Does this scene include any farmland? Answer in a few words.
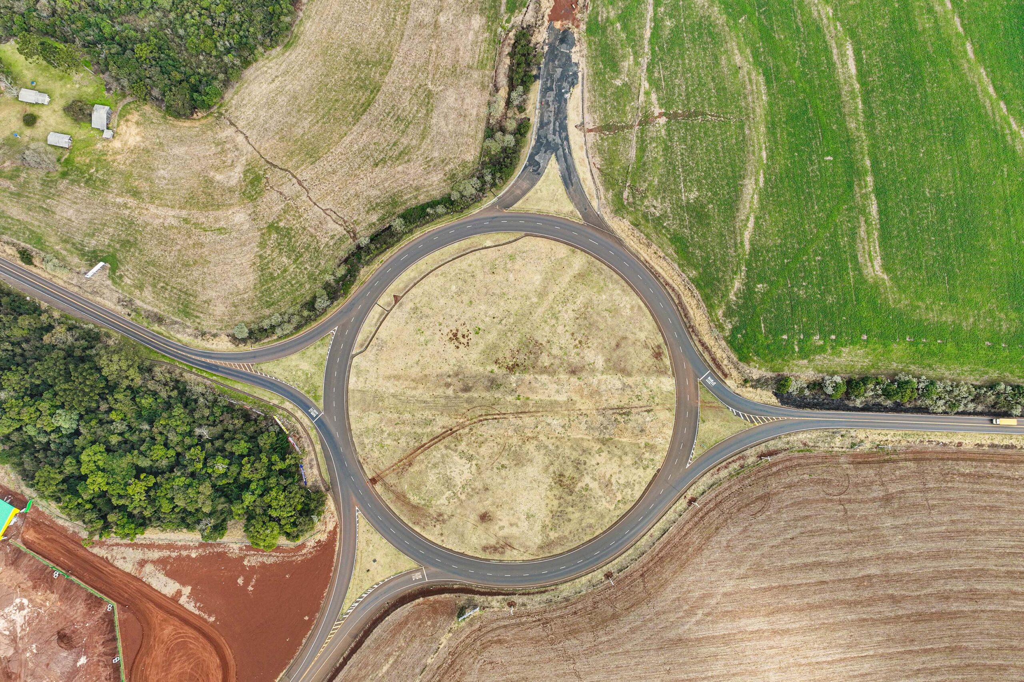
Yes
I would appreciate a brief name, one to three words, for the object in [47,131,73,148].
shed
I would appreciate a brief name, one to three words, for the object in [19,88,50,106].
house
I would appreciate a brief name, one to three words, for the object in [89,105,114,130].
barn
